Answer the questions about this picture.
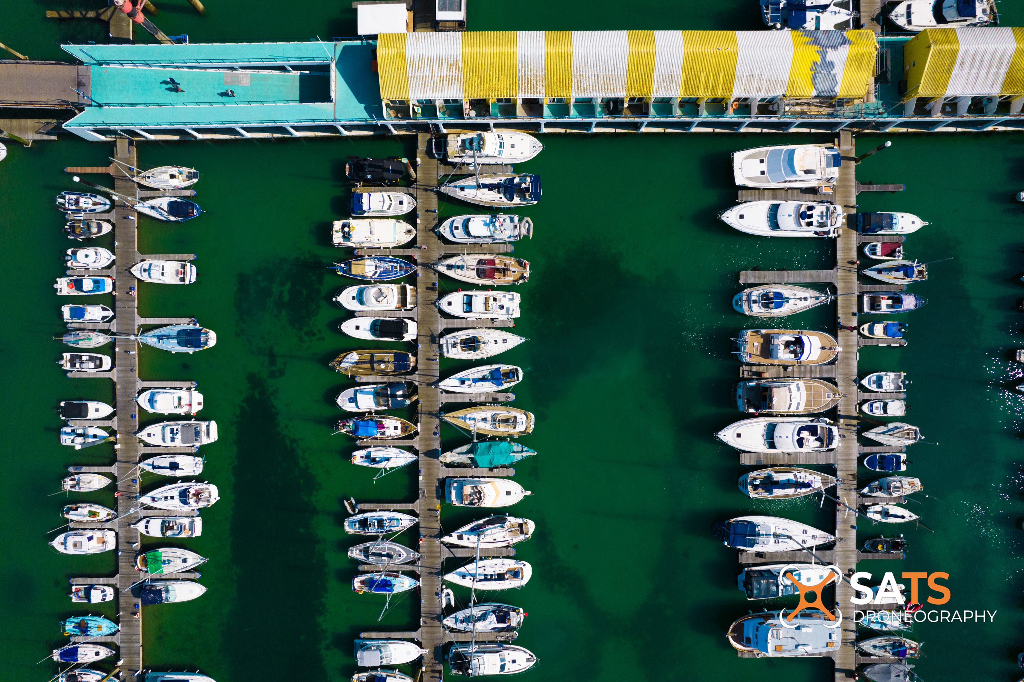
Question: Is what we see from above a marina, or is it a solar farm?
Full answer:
The area seen from above is a marina.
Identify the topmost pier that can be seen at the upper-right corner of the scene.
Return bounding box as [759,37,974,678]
[859,0,881,36]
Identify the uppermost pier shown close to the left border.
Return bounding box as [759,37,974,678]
[47,0,134,42]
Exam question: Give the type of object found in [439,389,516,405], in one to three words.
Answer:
pier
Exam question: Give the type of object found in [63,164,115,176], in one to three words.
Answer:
pier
